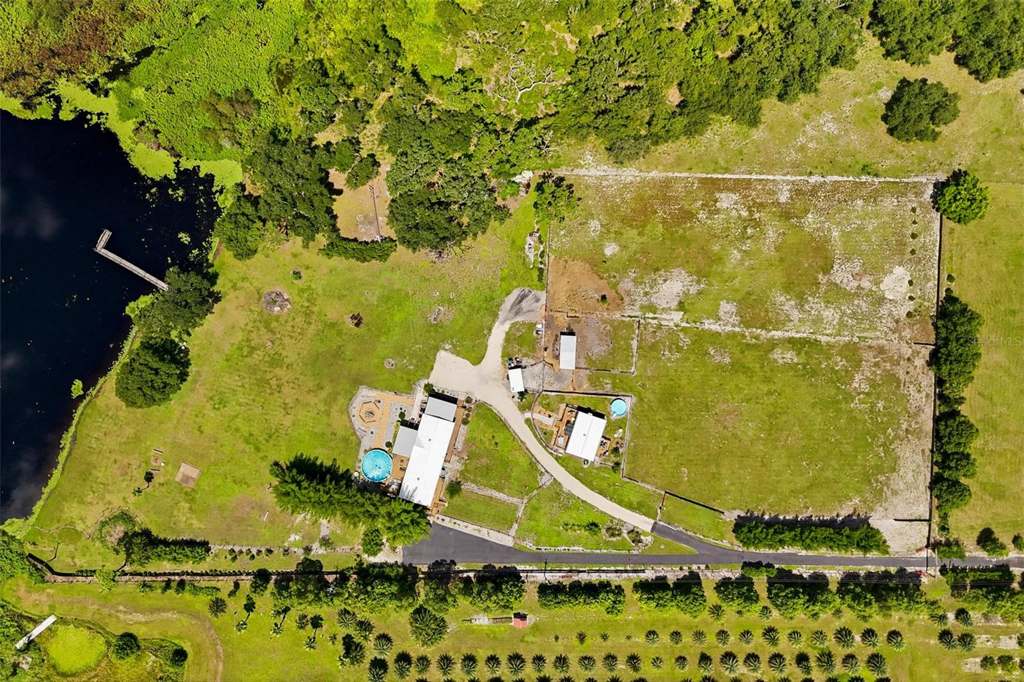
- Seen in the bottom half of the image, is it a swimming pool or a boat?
swimming pool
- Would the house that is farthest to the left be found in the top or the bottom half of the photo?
bottom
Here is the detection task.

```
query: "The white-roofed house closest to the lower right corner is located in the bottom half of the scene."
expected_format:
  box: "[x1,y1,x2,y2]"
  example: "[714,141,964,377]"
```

[566,411,607,461]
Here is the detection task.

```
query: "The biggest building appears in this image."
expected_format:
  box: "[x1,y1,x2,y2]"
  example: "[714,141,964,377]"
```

[393,397,457,506]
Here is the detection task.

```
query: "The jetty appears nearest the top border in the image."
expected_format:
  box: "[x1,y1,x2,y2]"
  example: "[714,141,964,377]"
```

[93,229,165,287]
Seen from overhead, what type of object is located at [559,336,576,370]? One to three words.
barn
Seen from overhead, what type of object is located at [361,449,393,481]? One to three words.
swimming pool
